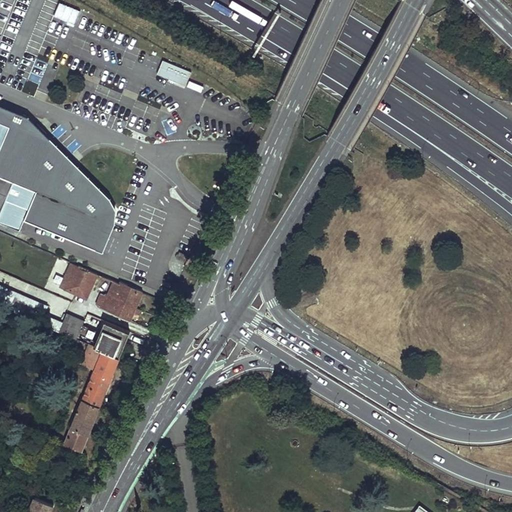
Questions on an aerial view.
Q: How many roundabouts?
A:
none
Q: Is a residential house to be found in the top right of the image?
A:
No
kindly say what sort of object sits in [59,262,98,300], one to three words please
house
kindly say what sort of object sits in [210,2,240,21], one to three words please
vehicle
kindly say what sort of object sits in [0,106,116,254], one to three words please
building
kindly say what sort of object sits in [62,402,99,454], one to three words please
house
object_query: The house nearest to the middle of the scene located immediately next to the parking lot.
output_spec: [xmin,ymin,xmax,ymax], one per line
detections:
[96,280,145,322]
